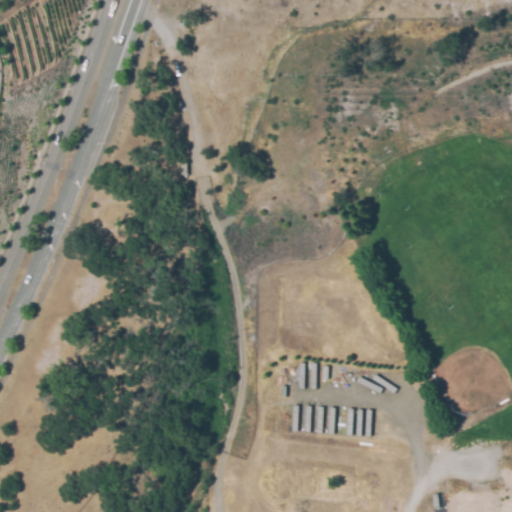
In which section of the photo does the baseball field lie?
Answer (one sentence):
The baseball field is in the right part of the image.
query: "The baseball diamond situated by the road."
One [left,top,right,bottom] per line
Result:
[346,133,512,448]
